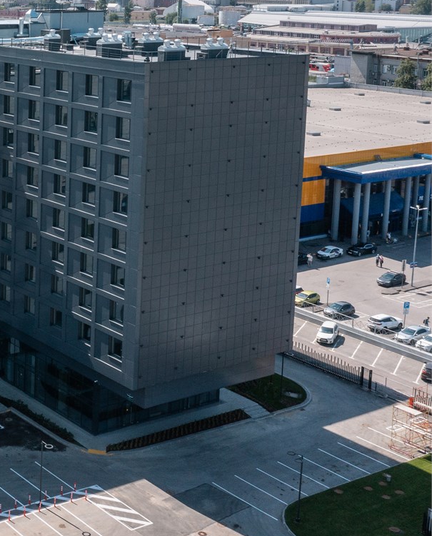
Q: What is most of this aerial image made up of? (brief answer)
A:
buildings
